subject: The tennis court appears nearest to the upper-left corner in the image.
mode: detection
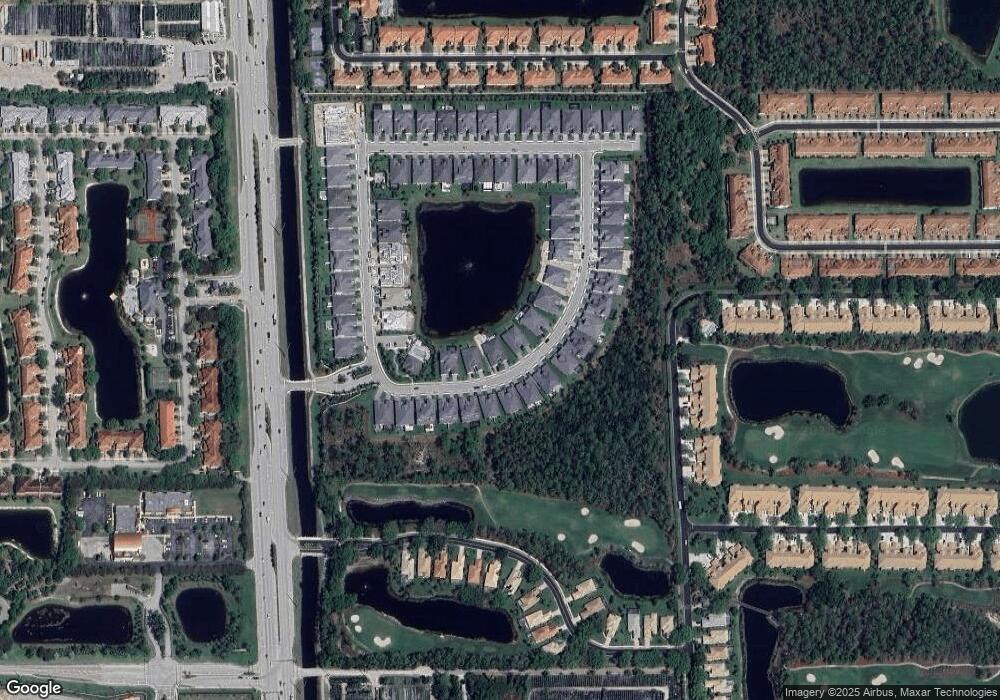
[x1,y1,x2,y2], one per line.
[137,208,166,243]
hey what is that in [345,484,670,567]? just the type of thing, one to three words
golf course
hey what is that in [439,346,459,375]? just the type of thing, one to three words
house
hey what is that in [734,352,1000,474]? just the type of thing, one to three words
golf course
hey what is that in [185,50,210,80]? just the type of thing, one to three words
shed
